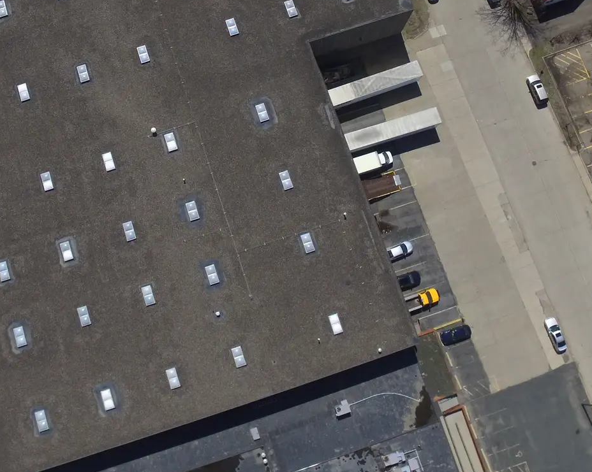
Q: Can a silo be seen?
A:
No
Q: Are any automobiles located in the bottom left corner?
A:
No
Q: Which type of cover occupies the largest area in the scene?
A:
buildings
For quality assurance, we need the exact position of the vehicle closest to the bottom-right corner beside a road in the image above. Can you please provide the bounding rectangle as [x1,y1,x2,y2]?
[544,317,568,354]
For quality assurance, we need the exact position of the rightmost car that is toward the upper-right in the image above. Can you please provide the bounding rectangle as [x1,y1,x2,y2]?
[526,75,548,106]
